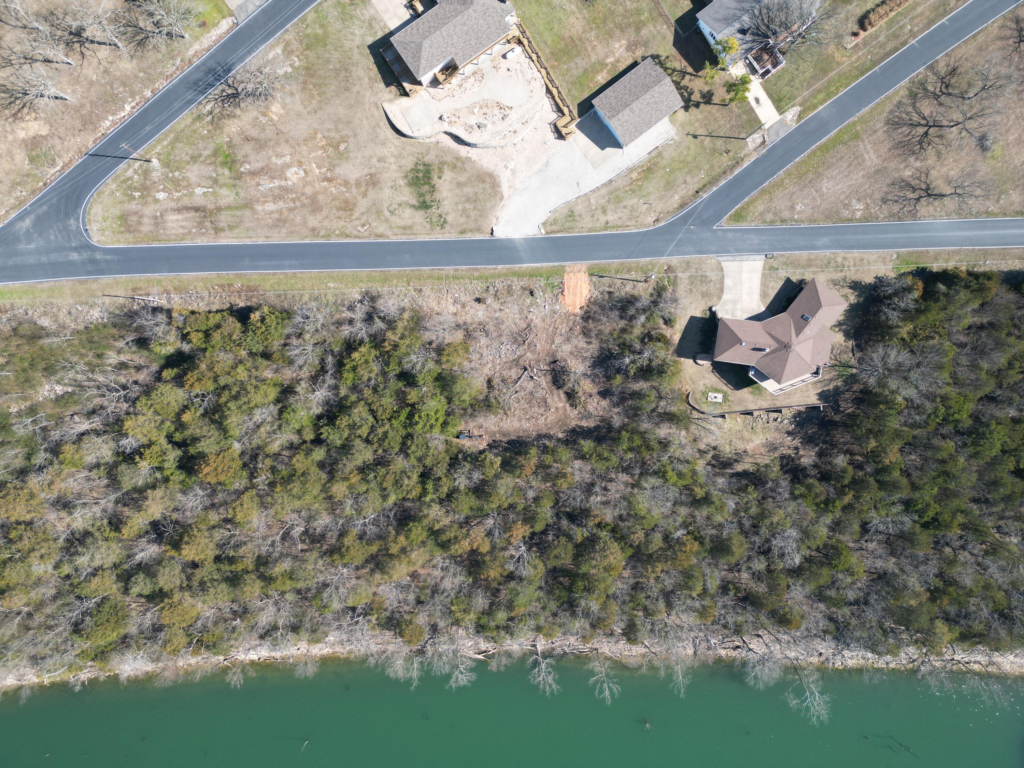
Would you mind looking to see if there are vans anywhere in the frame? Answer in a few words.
No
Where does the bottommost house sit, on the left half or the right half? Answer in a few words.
right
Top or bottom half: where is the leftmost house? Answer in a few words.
top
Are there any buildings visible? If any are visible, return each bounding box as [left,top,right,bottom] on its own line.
[591,57,684,151]
[379,0,523,102]
[710,277,849,395]
[695,0,822,85]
